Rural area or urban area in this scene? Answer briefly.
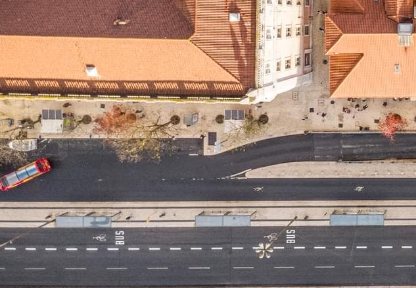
urban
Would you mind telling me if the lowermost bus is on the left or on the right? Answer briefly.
left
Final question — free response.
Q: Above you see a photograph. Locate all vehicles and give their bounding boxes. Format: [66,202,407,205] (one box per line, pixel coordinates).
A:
[3,140,34,153]
[0,156,51,193]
